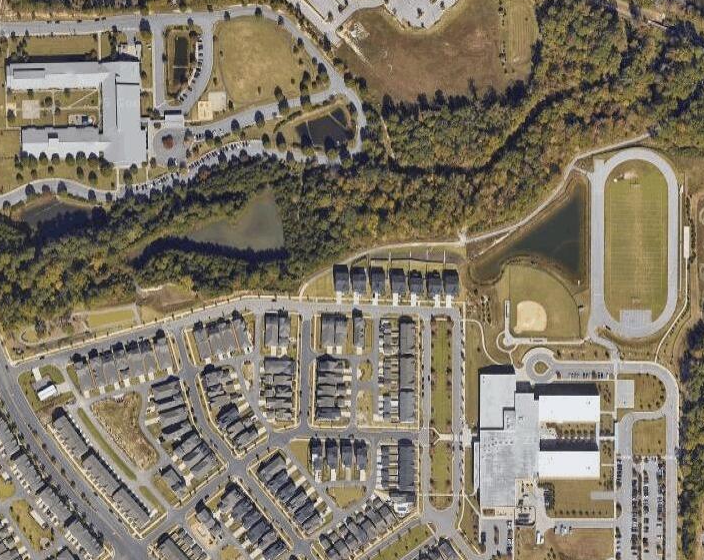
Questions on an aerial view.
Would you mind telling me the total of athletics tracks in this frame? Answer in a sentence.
The count comes to 1 athletics track.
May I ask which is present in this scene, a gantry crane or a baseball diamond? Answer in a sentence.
The one in the frame is a baseball diamond.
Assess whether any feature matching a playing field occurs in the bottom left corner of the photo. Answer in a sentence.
No, no playing field appears in the bottom left corner of the photo.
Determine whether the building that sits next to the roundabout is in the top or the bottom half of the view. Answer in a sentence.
The building that sits next to the roundabout is in the bottom half of the image.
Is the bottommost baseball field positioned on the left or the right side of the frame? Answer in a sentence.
It is on the right.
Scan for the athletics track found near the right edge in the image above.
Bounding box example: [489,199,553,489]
[590,148,679,337]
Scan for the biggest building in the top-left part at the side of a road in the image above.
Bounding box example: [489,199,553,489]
[7,62,144,167]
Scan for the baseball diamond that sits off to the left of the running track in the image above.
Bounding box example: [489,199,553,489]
[510,263,581,338]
